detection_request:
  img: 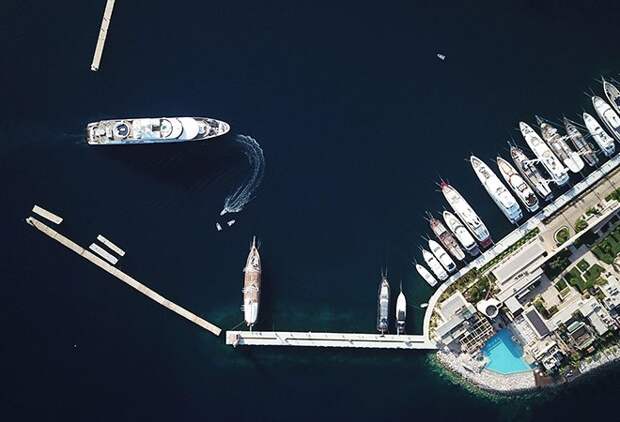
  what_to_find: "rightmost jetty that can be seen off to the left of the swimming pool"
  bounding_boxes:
[226,331,438,351]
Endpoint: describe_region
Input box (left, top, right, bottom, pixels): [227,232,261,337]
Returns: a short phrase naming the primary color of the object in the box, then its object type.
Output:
white vessel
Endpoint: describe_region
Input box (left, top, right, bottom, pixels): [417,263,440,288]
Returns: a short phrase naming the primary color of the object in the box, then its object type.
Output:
white boat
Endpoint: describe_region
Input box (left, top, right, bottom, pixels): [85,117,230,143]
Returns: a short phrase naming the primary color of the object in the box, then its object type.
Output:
white boat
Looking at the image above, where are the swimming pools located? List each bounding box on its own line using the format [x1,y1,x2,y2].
[478,324,535,376]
